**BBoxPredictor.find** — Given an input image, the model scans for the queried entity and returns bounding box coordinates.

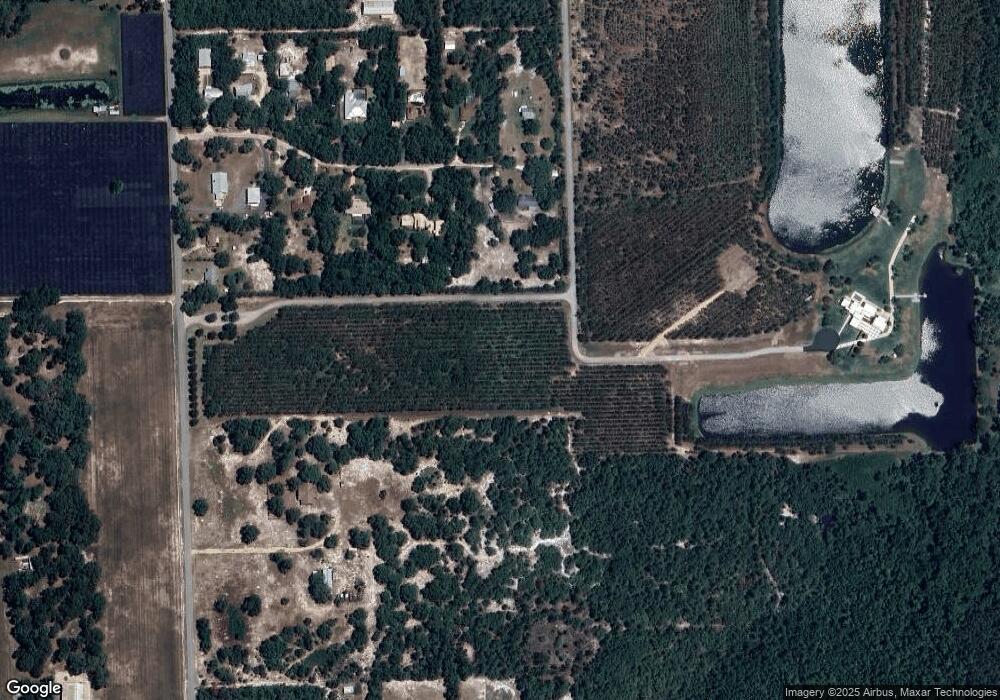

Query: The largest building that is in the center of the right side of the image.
[837,291,893,338]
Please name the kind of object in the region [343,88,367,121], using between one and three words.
house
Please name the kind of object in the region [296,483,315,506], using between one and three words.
house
